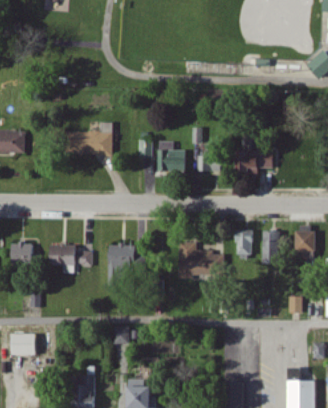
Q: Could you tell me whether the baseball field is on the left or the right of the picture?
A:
right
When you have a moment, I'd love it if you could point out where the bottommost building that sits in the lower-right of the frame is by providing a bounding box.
[286,369,316,408]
